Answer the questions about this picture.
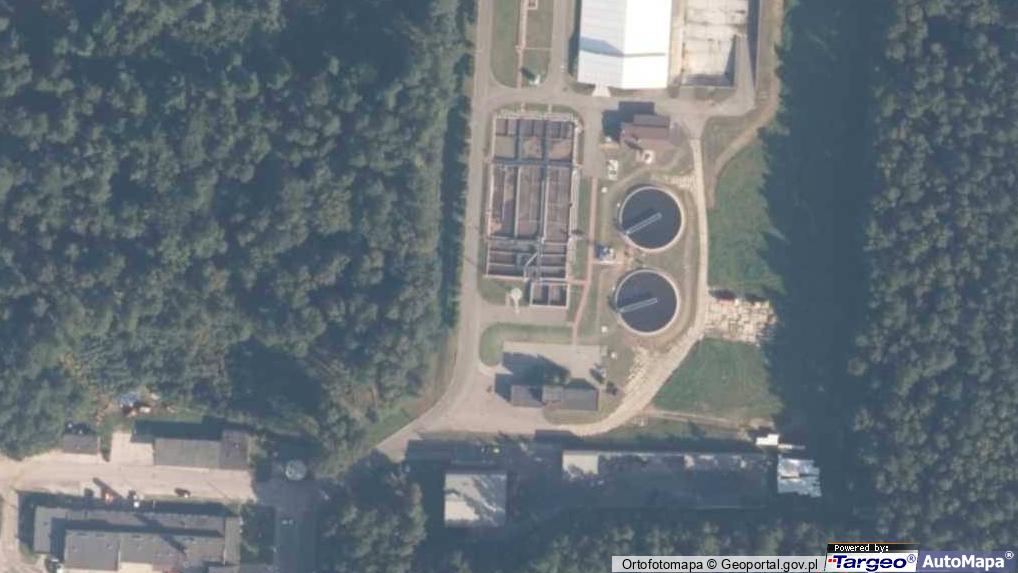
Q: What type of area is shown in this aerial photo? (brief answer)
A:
industrial area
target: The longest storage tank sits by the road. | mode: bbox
[486,109,576,281]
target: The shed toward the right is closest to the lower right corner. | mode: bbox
[776,458,820,497]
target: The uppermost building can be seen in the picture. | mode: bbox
[577,0,671,90]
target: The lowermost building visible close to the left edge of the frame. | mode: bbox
[34,506,246,573]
